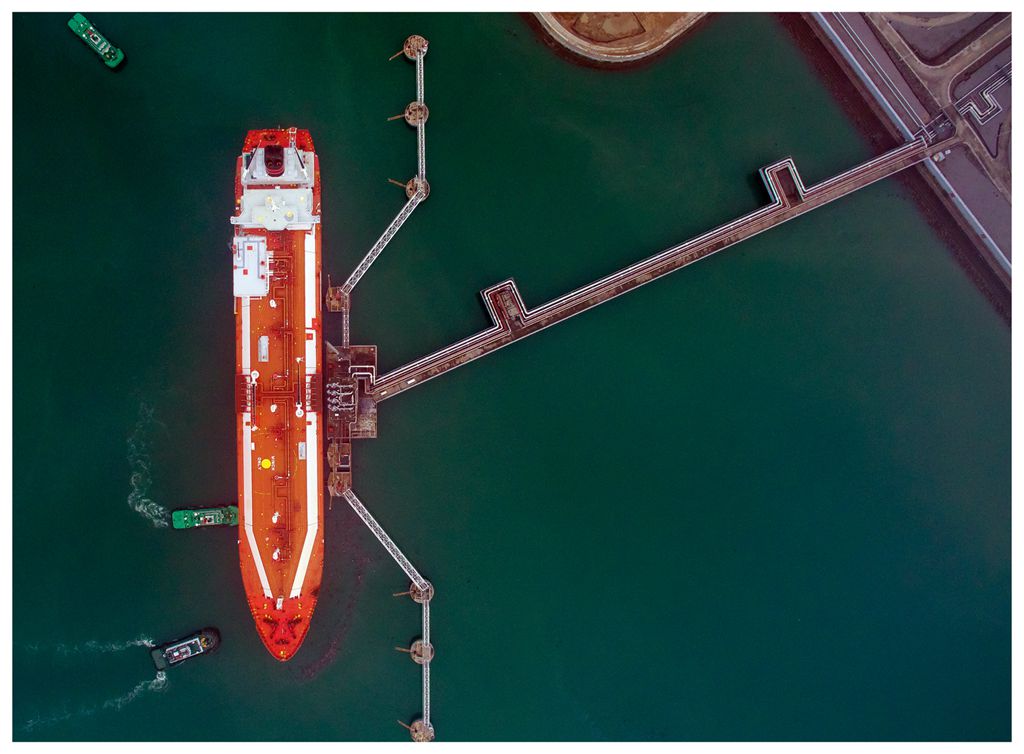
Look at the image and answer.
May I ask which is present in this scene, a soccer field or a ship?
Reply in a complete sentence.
This aerial view contains a ship.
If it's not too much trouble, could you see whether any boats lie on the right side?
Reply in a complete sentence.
No, on the right side there is no boat.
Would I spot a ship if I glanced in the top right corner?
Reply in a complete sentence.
No, no ship can be made out in the top right corner.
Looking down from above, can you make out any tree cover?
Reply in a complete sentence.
No, there is no tree cover in the image.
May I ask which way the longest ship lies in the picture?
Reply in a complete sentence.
I'd say the longest ship is aligned up and down in the picture.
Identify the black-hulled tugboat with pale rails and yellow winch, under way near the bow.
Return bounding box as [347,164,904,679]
[152,630,220,670]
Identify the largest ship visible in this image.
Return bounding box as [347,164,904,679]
[230,127,325,663]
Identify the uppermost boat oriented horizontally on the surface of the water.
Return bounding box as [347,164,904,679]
[172,506,238,529]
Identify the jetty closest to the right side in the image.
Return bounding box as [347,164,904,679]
[349,133,948,403]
